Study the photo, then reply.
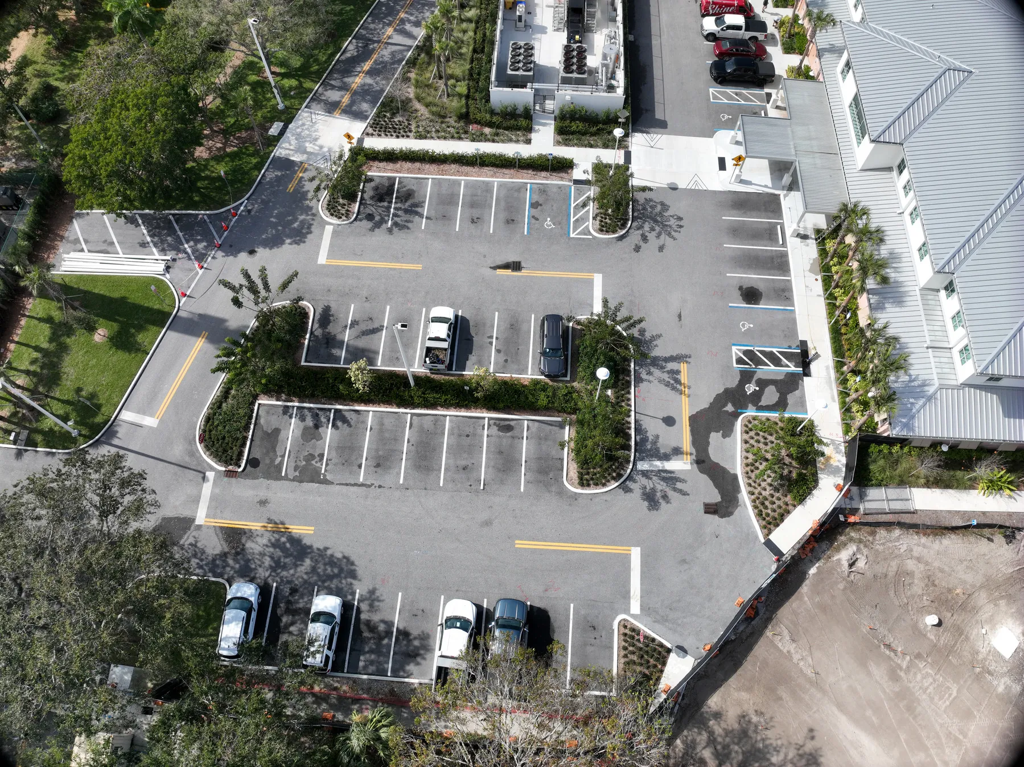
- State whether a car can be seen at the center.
Yes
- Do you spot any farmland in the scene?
No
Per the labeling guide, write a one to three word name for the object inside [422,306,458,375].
truck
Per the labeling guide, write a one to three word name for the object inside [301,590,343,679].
car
